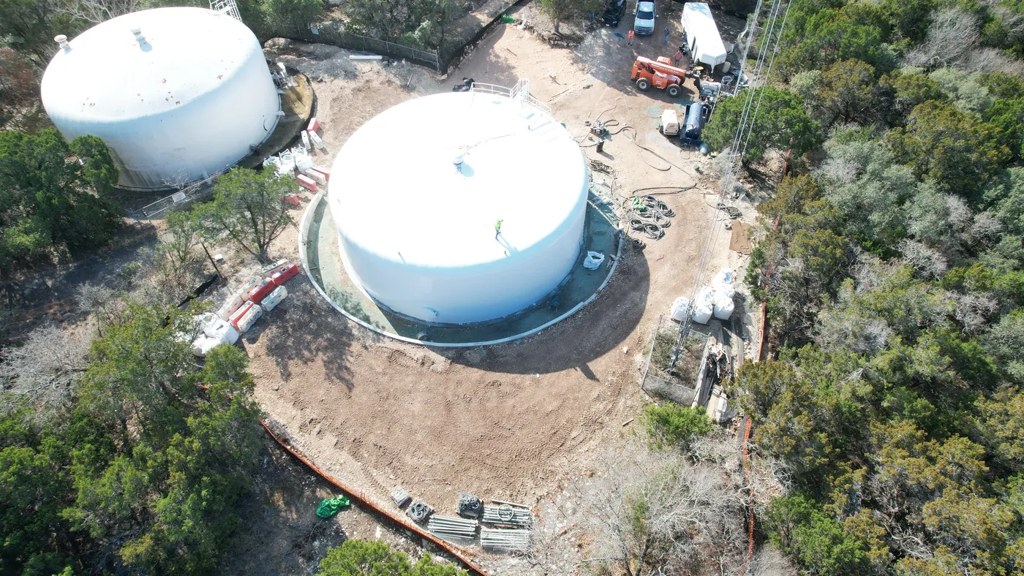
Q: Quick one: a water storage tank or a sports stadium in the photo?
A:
water storage tank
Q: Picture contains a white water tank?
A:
Yes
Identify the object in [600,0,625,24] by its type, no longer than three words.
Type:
car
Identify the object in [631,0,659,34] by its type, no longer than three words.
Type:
truck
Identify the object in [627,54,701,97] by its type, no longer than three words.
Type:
work vehicle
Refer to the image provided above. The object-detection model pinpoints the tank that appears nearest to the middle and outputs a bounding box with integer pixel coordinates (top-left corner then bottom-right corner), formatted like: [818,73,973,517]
[329,78,589,331]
